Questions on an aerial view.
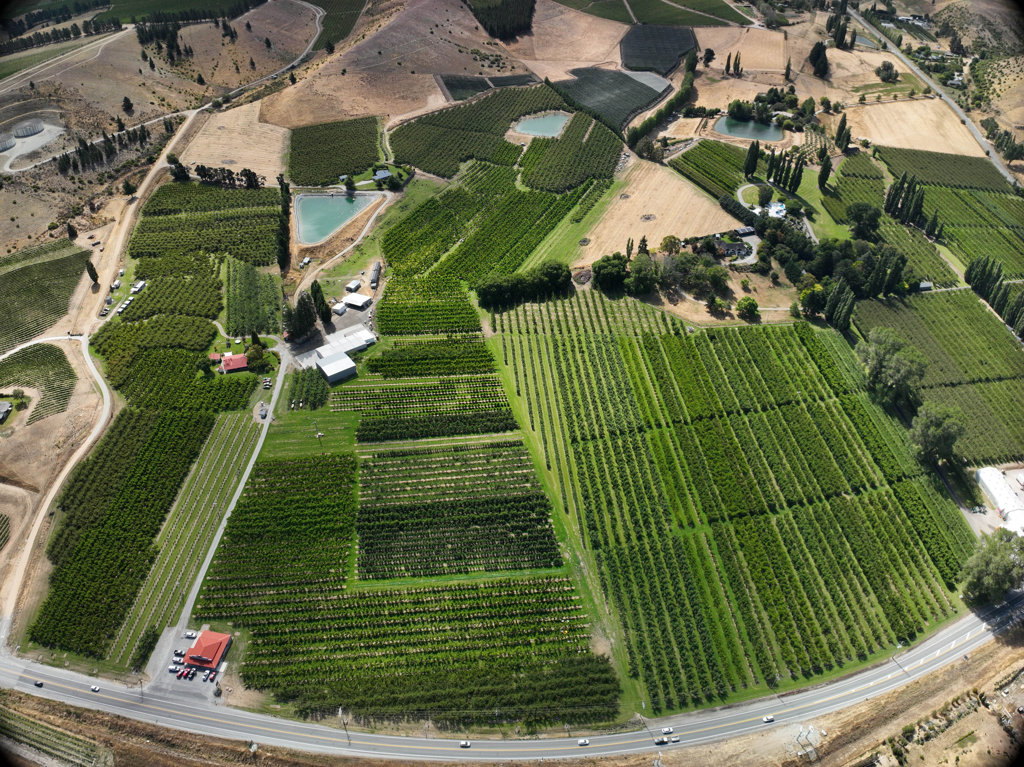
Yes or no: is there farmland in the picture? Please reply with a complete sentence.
Yes, there is farmland in the image.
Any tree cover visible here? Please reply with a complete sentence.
Yes, tree cover can be seen from above here.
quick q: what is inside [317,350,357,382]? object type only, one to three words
shed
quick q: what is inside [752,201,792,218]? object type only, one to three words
house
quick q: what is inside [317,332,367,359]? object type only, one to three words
shed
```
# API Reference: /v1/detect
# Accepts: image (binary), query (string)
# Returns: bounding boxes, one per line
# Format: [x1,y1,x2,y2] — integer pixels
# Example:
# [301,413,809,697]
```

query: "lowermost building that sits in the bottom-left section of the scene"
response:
[183,630,232,671]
